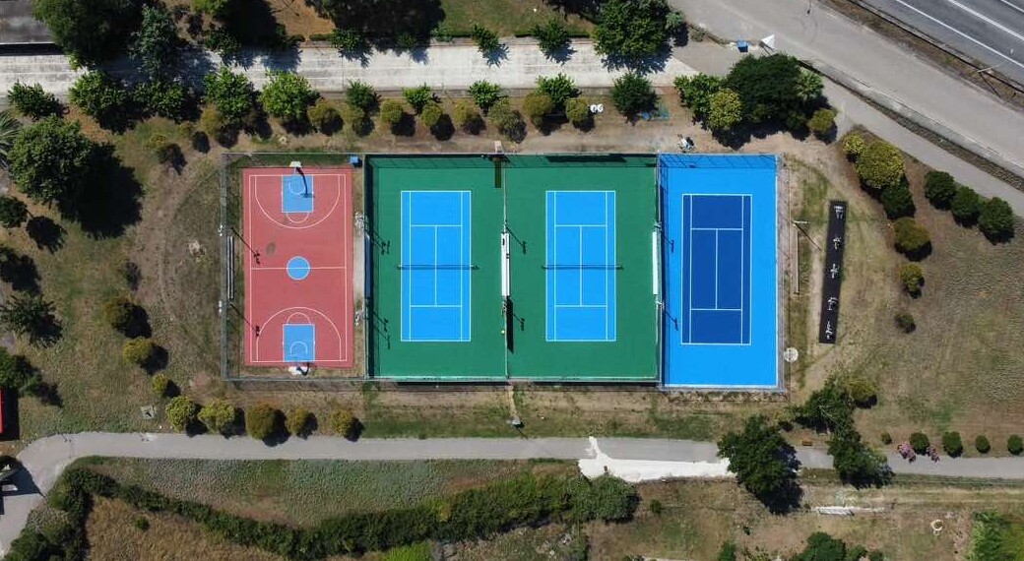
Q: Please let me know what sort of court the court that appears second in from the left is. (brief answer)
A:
tennis court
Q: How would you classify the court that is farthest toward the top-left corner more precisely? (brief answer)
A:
basketball court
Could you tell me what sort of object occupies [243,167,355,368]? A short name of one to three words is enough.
basketball court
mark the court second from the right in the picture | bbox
[507,158,657,378]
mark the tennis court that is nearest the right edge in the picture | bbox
[662,157,776,386]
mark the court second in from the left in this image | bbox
[368,158,505,378]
